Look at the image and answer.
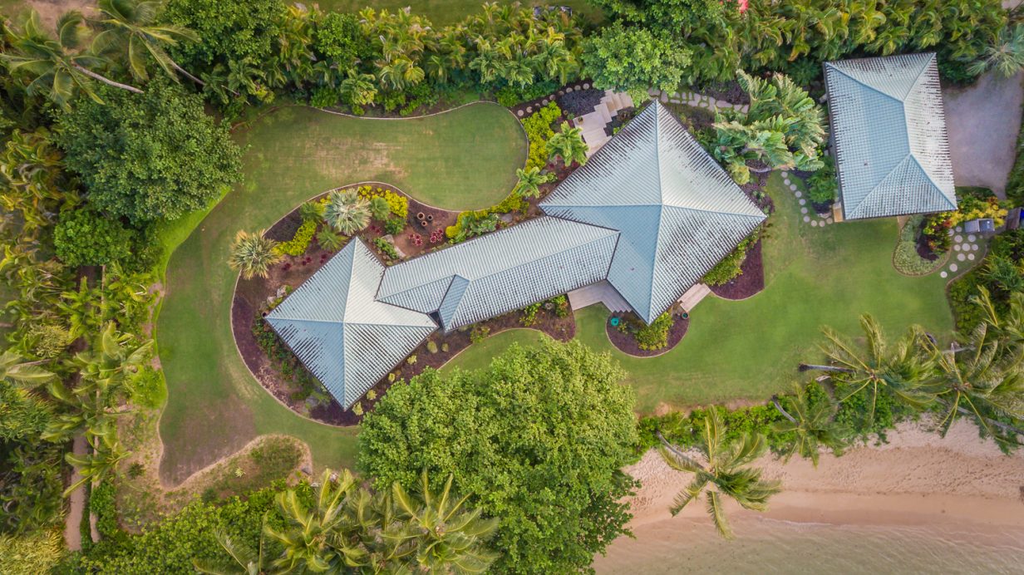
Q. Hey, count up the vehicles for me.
none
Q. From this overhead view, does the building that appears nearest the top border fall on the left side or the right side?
right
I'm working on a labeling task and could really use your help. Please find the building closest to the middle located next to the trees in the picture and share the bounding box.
[264,103,769,411]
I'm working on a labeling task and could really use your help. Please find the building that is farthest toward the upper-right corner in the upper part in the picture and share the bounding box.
[818,50,959,223]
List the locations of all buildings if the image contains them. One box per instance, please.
[818,50,959,223]
[264,103,769,411]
